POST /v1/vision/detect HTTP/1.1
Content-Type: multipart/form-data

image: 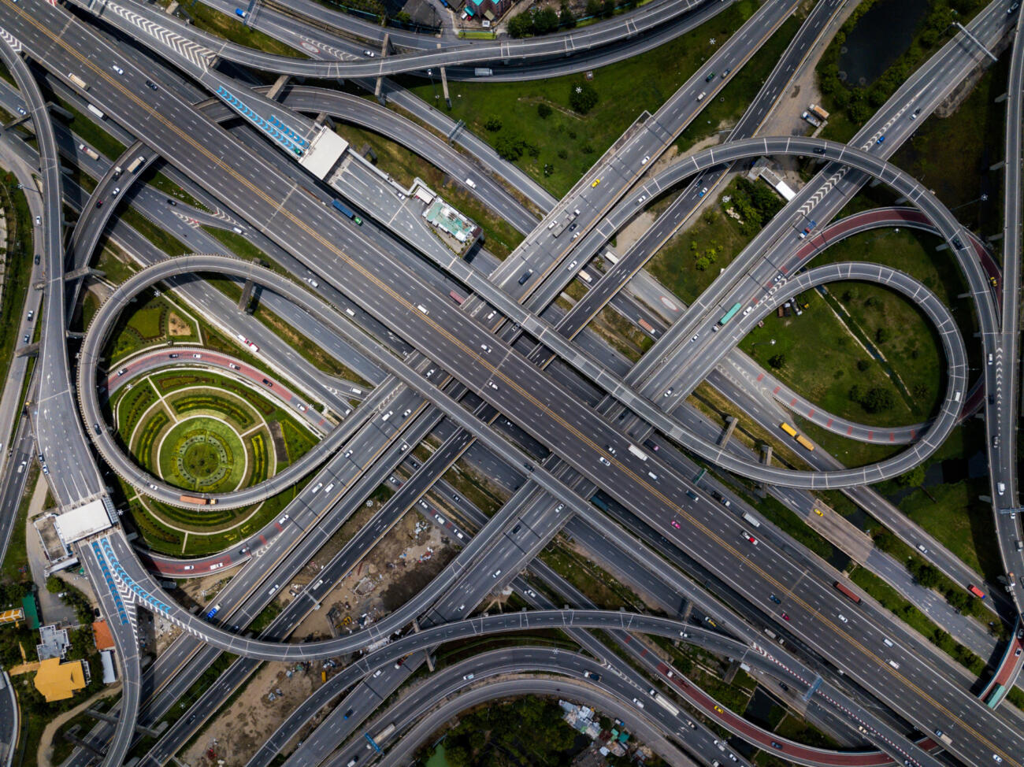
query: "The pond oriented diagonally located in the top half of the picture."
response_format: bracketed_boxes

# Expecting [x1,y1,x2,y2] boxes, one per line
[837,0,928,89]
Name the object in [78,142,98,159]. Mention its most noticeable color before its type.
white vehicle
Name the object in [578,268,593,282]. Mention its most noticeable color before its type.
white vehicle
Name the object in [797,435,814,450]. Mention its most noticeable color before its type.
orange vehicle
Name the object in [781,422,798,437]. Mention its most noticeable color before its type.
yellow vehicle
